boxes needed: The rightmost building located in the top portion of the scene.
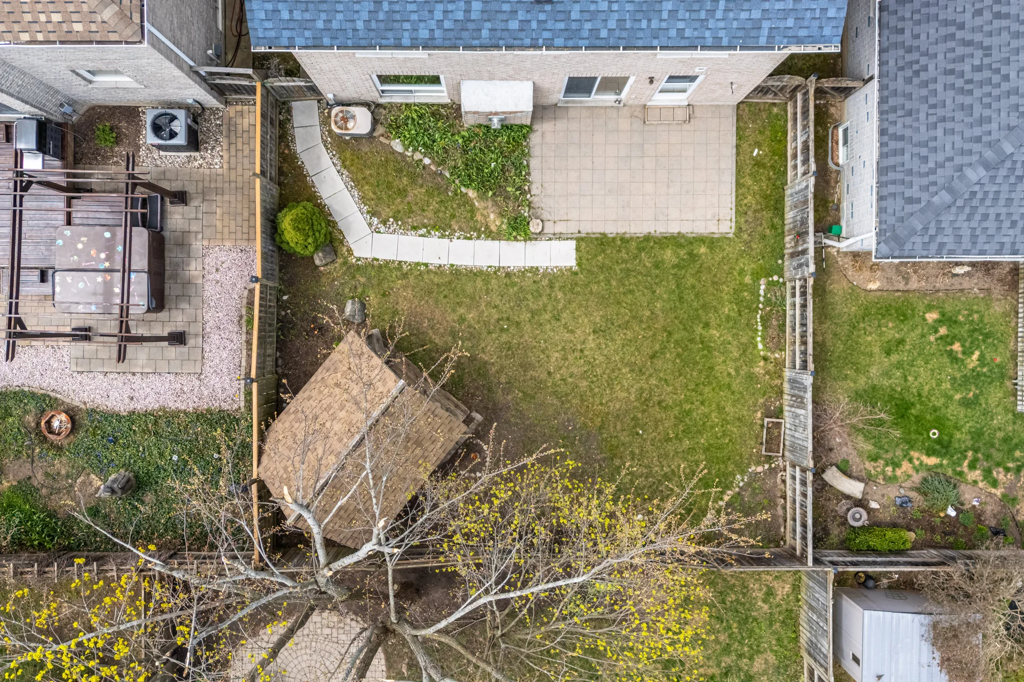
[843,0,1024,260]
